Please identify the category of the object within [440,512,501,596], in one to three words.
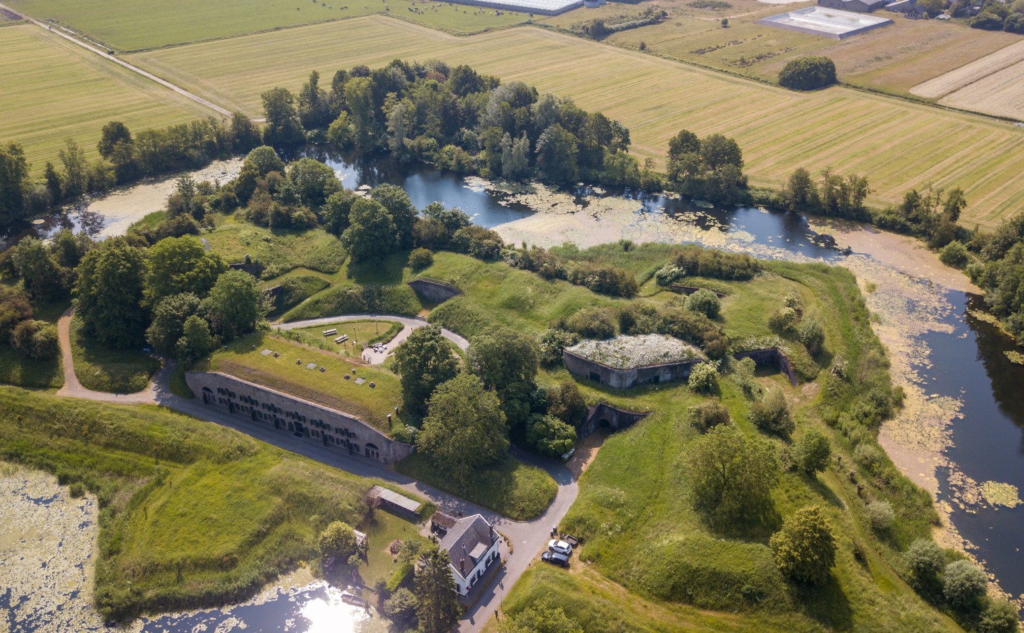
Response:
house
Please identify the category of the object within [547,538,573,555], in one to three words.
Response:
car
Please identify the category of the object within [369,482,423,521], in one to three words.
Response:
shed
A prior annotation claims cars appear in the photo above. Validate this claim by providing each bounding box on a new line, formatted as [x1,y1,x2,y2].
[542,552,570,570]
[547,538,573,555]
